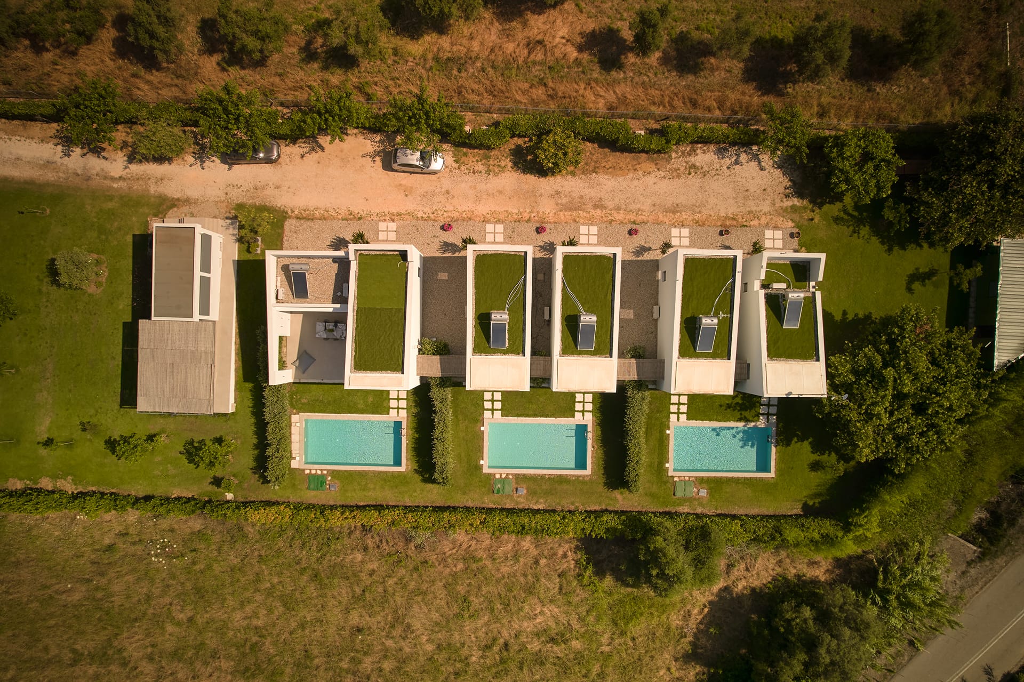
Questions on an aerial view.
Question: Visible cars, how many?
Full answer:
The picture shows 2 cars.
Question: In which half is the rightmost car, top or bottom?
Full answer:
You can find the rightmost car in the top half.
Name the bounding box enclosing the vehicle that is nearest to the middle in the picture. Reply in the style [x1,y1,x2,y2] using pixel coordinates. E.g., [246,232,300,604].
[391,148,445,175]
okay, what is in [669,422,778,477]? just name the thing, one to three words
swimming pool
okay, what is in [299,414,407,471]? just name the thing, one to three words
swimming pool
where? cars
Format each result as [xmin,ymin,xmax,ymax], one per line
[391,148,445,175]
[225,137,282,166]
